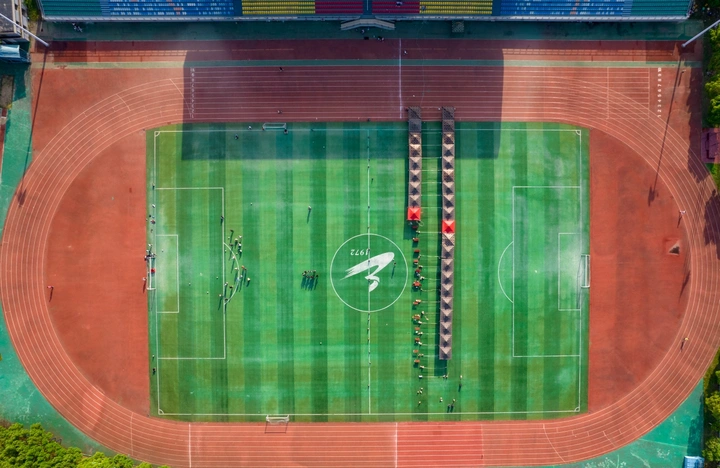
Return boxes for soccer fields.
[144,120,591,420]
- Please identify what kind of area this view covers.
sports ground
